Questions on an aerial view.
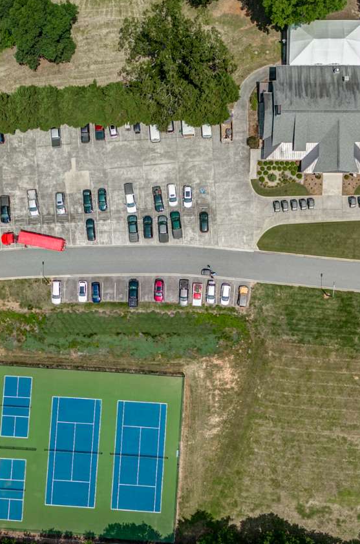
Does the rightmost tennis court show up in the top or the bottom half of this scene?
bottom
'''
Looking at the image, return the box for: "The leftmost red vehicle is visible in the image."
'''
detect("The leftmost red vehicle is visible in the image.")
[0,231,25,245]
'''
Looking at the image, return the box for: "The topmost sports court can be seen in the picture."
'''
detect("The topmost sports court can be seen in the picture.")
[0,376,32,439]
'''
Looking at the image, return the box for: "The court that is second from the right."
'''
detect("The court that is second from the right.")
[46,396,101,509]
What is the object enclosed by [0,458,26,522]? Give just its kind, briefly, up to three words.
sports court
